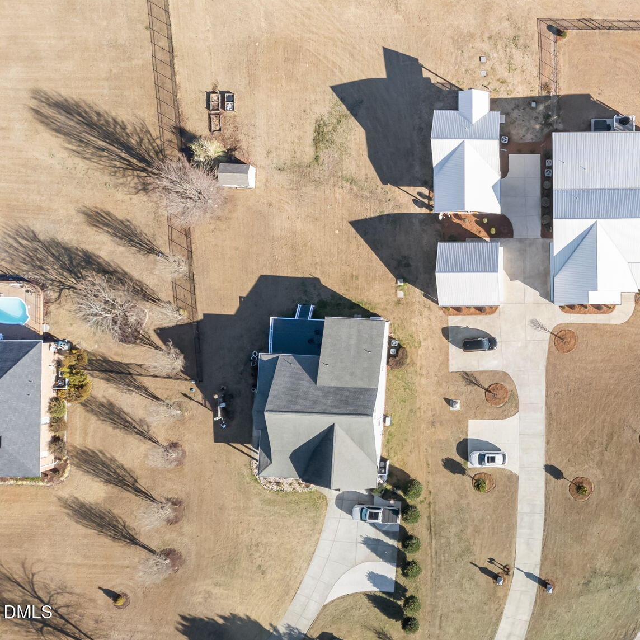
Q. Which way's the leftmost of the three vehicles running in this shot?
horizontally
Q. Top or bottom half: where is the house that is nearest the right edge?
top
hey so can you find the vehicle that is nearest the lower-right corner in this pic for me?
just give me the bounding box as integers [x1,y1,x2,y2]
[470,450,507,468]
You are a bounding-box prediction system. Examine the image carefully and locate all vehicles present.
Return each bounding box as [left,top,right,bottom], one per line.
[462,335,496,351]
[470,450,507,468]
[352,503,399,524]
